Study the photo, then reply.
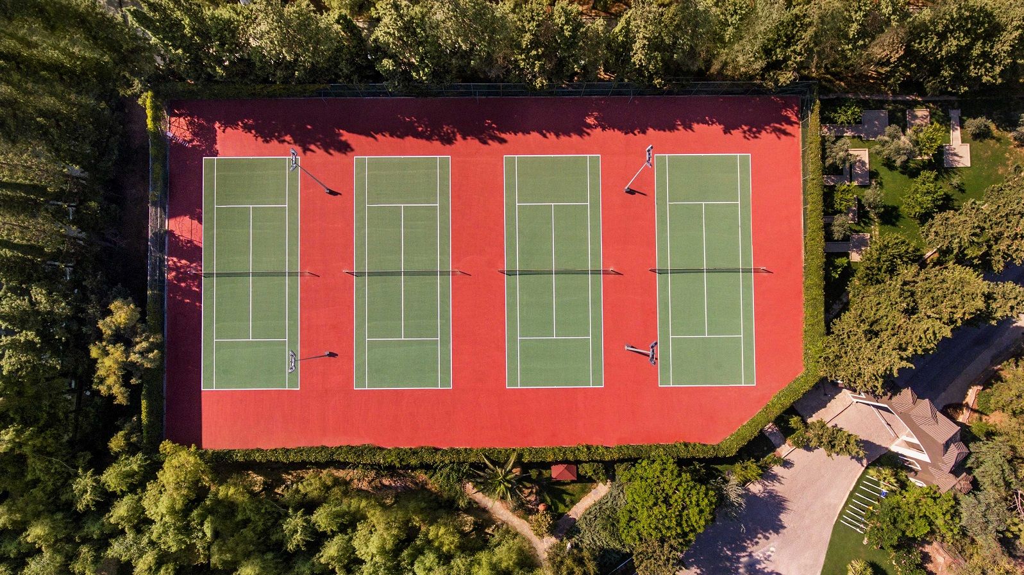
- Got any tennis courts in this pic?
Yes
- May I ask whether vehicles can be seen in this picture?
No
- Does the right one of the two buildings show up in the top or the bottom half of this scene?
bottom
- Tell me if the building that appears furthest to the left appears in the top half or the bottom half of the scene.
bottom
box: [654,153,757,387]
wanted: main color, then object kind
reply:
green tennis court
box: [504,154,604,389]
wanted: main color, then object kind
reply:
green tennis court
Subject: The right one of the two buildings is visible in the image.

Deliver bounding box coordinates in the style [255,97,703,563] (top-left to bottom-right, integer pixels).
[844,374,977,498]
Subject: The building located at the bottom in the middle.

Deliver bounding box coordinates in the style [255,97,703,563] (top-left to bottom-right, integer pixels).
[552,462,577,483]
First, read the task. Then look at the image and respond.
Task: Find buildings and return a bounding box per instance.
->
[552,462,577,483]
[844,374,977,498]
